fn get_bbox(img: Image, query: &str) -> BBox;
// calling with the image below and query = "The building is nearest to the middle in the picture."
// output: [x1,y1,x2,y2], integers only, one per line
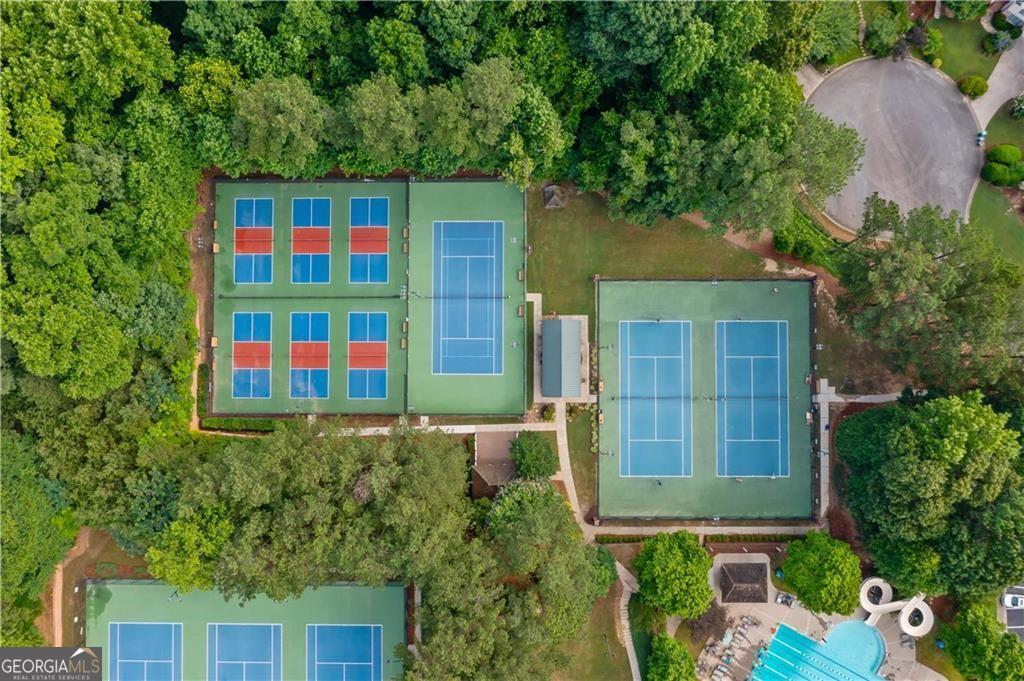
[541,319,581,398]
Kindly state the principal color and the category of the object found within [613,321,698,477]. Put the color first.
blue tennis court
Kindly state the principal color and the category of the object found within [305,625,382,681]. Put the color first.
blue tennis court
